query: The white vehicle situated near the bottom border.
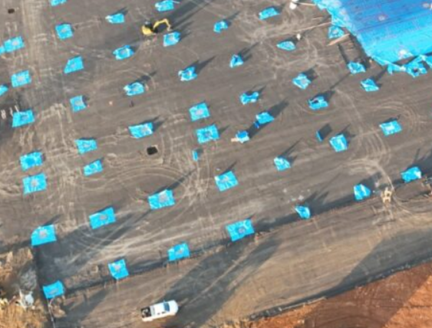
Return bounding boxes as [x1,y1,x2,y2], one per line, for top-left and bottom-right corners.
[141,302,178,321]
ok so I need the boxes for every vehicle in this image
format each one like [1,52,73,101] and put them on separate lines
[141,302,178,321]
[139,13,172,37]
